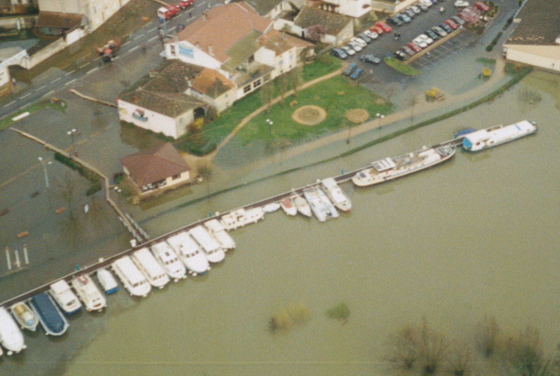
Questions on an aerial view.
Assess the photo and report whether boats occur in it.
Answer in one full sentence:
Yes, there's a boat here.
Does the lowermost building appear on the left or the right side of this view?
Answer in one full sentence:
The lowermost building sits on the left side.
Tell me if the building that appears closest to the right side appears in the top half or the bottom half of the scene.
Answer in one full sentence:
You can find the building that appears closest to the right side in the top half.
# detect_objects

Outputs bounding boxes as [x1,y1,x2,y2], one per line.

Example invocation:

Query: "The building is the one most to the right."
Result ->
[501,0,560,62]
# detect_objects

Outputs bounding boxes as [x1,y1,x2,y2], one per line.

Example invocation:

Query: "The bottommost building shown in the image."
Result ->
[114,143,193,201]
